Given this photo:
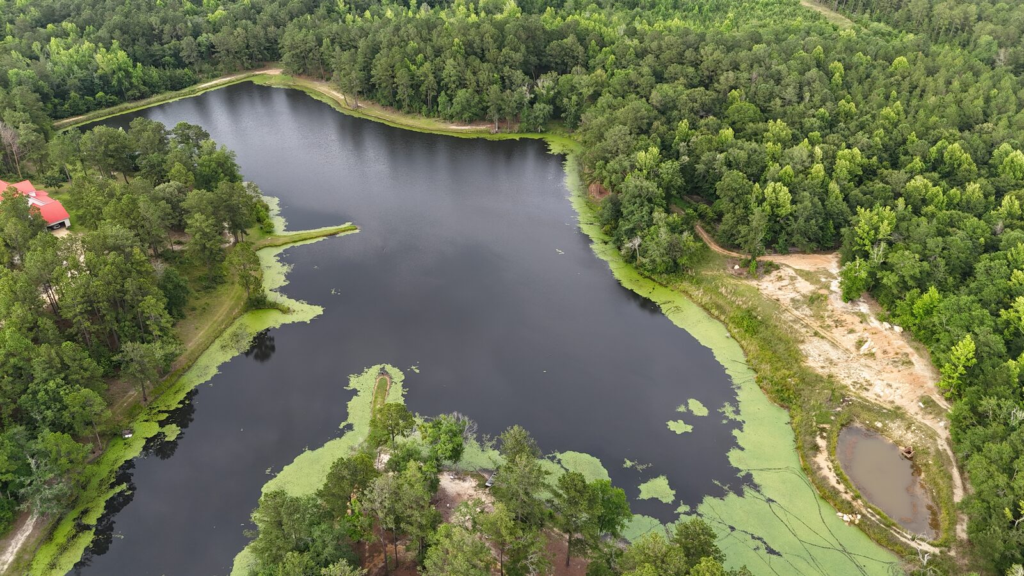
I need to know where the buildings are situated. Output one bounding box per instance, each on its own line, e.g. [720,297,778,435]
[0,179,70,232]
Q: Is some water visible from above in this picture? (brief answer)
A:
Yes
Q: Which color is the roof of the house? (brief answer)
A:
red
